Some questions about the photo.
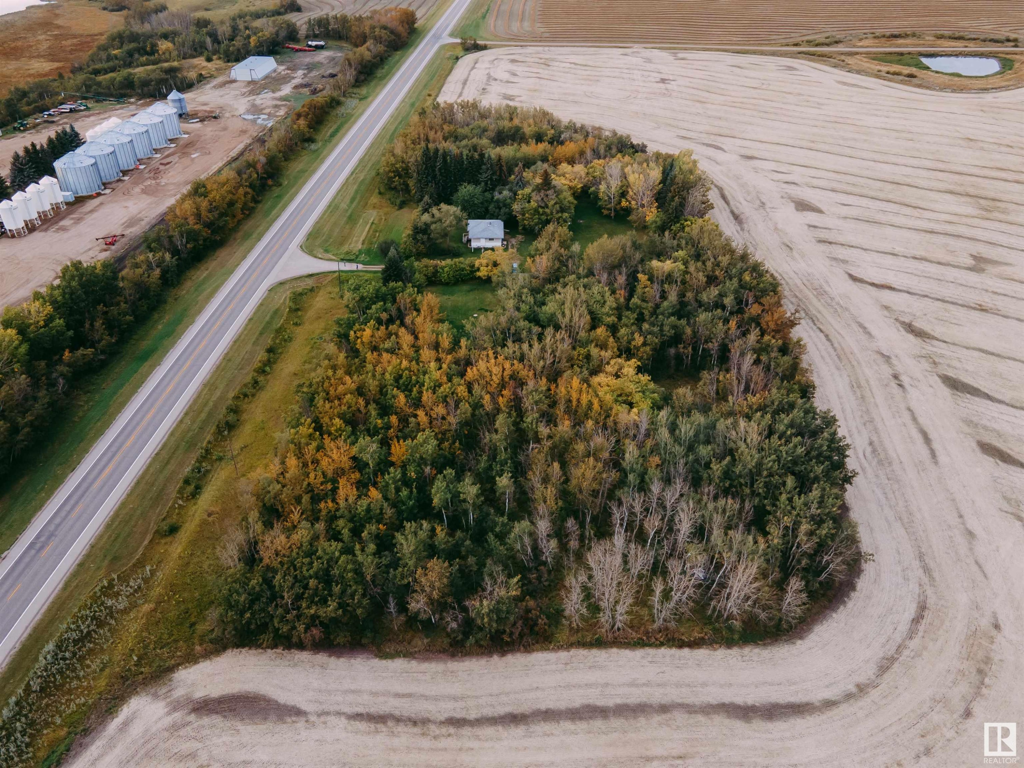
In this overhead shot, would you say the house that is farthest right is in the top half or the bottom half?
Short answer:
top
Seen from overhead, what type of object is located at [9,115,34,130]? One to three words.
work vehicle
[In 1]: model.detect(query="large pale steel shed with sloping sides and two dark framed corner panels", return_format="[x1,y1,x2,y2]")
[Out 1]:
[229,53,277,81]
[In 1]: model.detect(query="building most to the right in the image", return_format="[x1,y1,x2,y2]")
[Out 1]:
[468,217,505,247]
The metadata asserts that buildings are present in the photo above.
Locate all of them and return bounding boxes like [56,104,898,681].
[468,217,505,247]
[229,53,277,81]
